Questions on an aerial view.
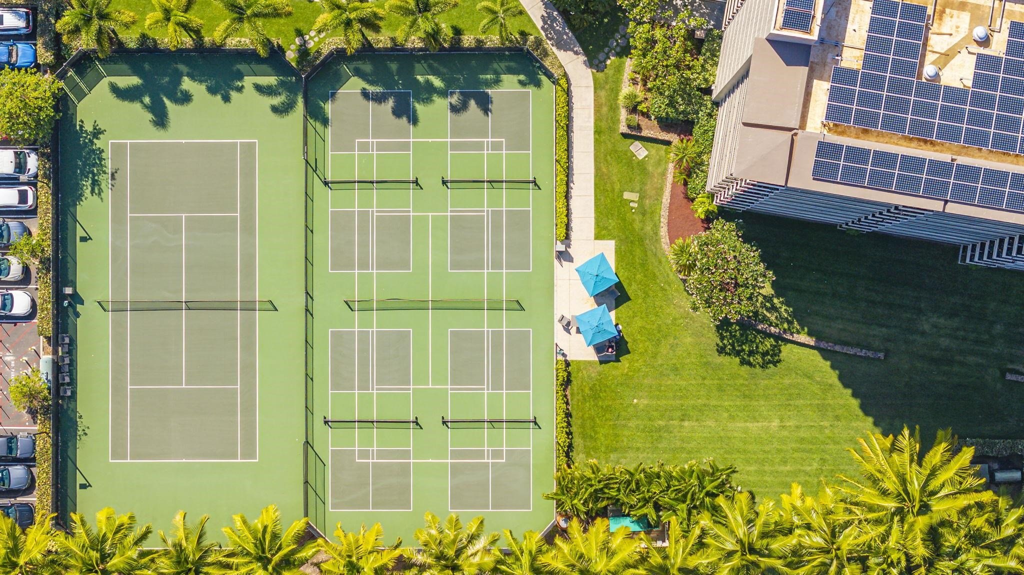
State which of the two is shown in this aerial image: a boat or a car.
car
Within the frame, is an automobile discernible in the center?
No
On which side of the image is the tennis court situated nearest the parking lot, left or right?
left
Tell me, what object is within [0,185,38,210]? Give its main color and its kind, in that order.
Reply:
white car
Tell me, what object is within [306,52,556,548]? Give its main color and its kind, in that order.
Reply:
green tennis court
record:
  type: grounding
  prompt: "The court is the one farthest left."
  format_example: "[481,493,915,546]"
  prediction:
[59,53,306,548]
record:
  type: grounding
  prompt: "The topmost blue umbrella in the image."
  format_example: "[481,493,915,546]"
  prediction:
[575,252,619,297]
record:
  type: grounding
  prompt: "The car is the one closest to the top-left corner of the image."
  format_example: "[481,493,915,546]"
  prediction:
[0,7,34,35]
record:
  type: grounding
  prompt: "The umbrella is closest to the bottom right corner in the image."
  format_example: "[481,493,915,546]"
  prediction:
[576,304,618,346]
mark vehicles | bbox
[0,38,39,70]
[0,185,38,210]
[0,501,37,533]
[0,431,37,461]
[0,288,34,319]
[0,7,34,35]
[0,252,27,283]
[0,461,33,492]
[0,218,30,249]
[0,147,39,177]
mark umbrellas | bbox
[575,252,619,297]
[576,304,618,346]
